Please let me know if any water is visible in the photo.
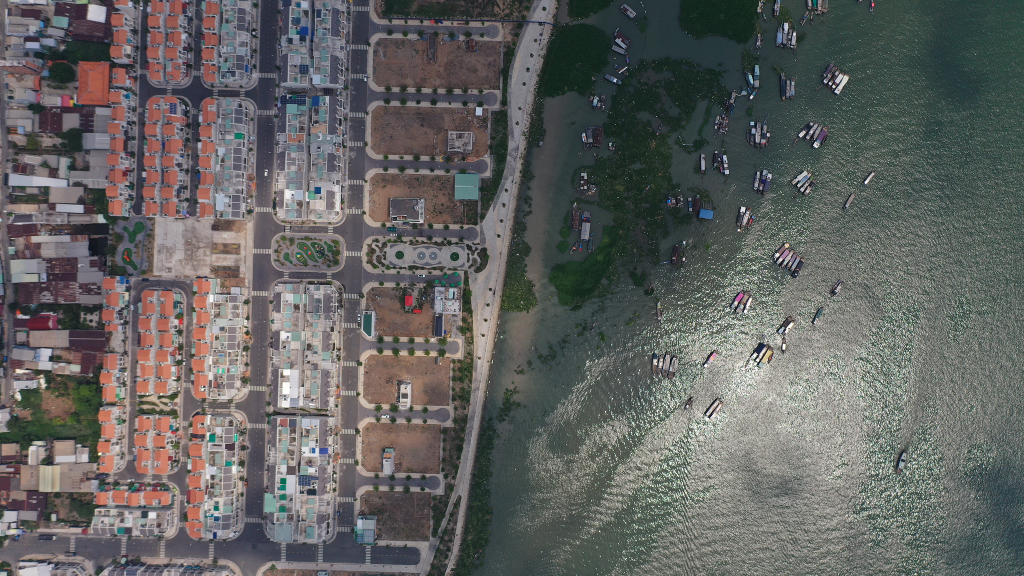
Yes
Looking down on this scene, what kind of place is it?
residential area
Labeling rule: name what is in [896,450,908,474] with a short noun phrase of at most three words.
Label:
ship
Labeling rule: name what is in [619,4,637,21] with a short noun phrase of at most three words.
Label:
boat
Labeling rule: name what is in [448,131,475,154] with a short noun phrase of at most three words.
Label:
house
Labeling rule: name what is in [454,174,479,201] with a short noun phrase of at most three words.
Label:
building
